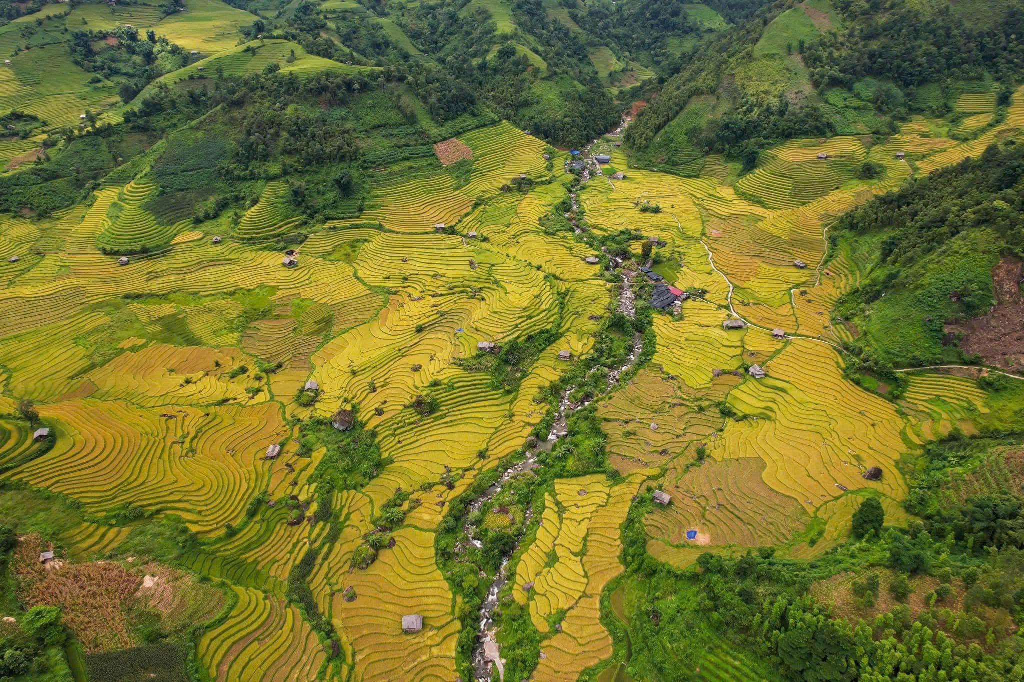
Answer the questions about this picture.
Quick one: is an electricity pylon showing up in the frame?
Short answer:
No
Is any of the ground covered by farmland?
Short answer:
Yes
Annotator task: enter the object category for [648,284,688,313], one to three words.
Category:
house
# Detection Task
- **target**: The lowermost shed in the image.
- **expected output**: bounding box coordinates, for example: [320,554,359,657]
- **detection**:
[400,611,423,634]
